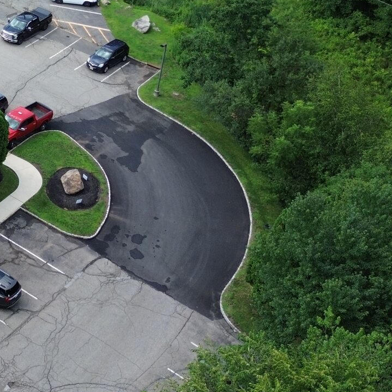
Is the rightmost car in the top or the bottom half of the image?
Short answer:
top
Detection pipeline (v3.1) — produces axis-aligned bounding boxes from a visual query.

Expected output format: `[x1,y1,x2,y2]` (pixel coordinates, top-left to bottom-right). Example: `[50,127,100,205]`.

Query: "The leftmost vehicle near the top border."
[0,5,55,44]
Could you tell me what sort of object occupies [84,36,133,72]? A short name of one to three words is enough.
car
